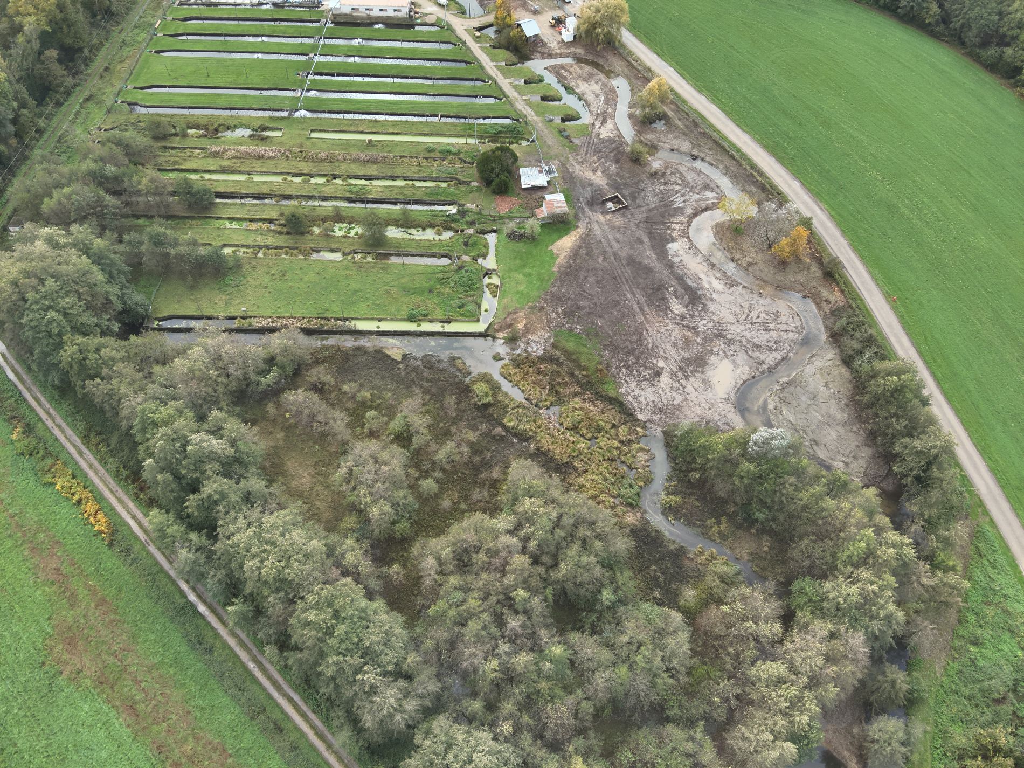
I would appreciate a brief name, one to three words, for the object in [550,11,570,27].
work vehicle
